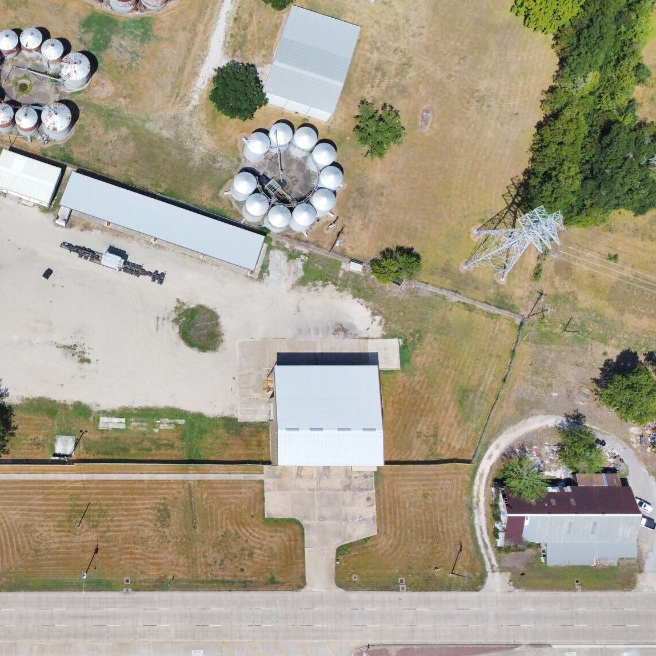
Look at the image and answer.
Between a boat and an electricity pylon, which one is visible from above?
electricity pylon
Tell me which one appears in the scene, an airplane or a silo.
silo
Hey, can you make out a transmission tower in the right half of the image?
Yes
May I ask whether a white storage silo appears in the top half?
Yes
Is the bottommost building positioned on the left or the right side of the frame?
right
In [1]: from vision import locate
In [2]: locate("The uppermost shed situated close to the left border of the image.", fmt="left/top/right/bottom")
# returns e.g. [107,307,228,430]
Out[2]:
[0,150,62,208]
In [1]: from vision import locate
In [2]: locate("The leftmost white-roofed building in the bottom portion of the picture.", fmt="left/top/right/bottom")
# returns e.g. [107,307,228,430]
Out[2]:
[270,366,385,474]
